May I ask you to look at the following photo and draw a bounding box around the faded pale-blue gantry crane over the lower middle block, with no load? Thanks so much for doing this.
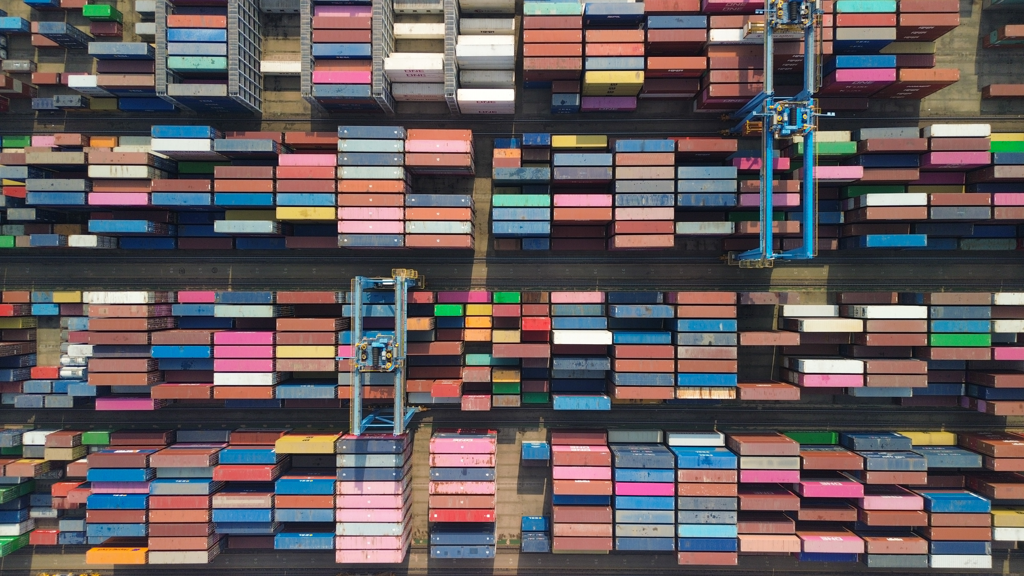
[335,268,434,439]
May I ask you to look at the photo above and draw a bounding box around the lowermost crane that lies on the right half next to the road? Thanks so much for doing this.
[712,96,835,271]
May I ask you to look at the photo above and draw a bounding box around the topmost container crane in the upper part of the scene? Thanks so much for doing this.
[713,0,821,121]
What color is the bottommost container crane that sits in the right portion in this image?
blue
